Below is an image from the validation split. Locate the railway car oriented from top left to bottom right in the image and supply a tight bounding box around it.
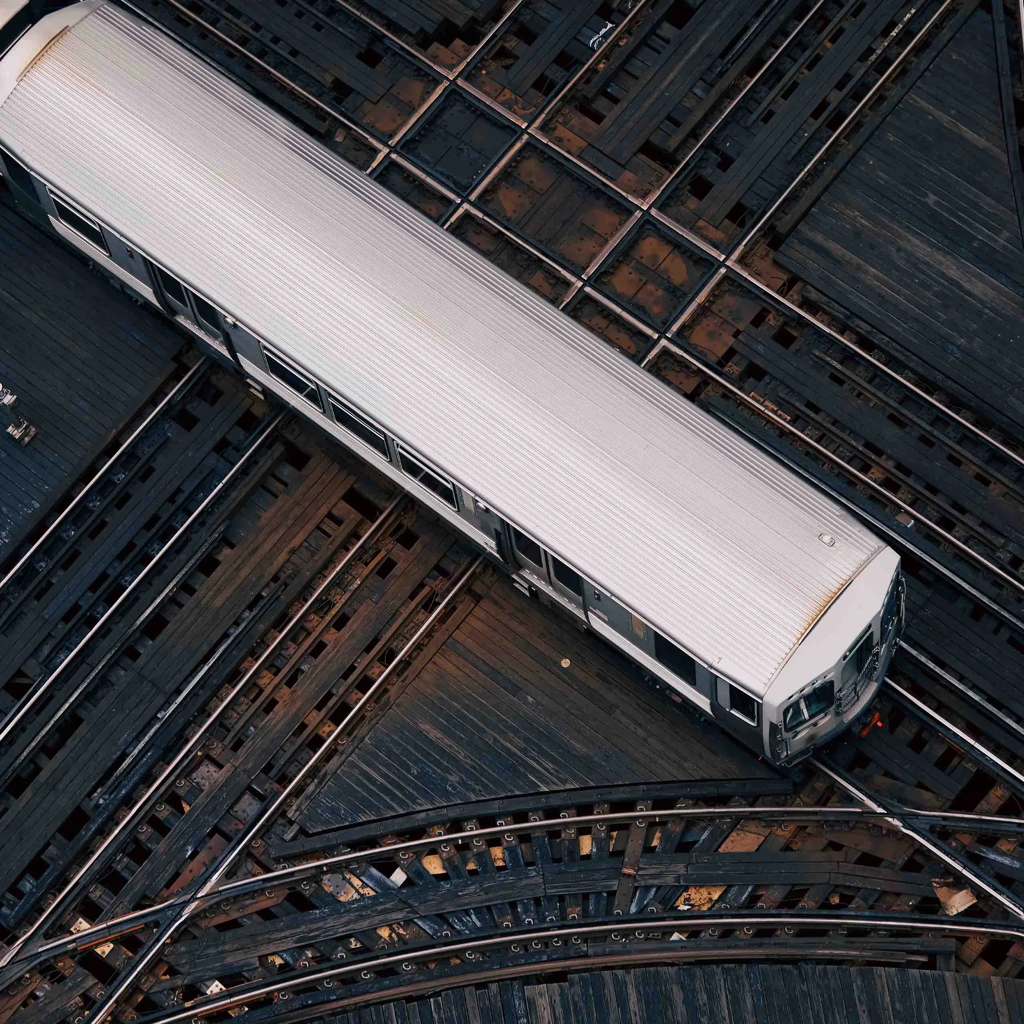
[0,0,915,772]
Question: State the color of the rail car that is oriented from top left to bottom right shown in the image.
white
